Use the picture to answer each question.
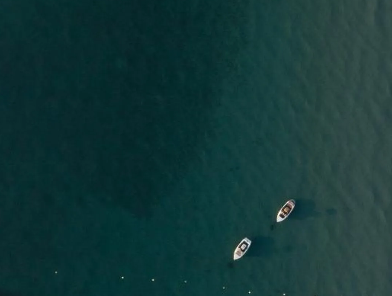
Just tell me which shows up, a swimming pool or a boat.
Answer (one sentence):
The one in the frame is a boat.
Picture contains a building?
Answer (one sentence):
No, the frame has no building in it.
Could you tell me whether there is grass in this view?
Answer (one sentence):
No, there is no grass in the image.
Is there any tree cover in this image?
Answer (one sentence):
No, there is no tree cover in the image.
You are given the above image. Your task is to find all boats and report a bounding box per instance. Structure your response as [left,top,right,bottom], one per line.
[235,237,252,259]
[278,200,296,222]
